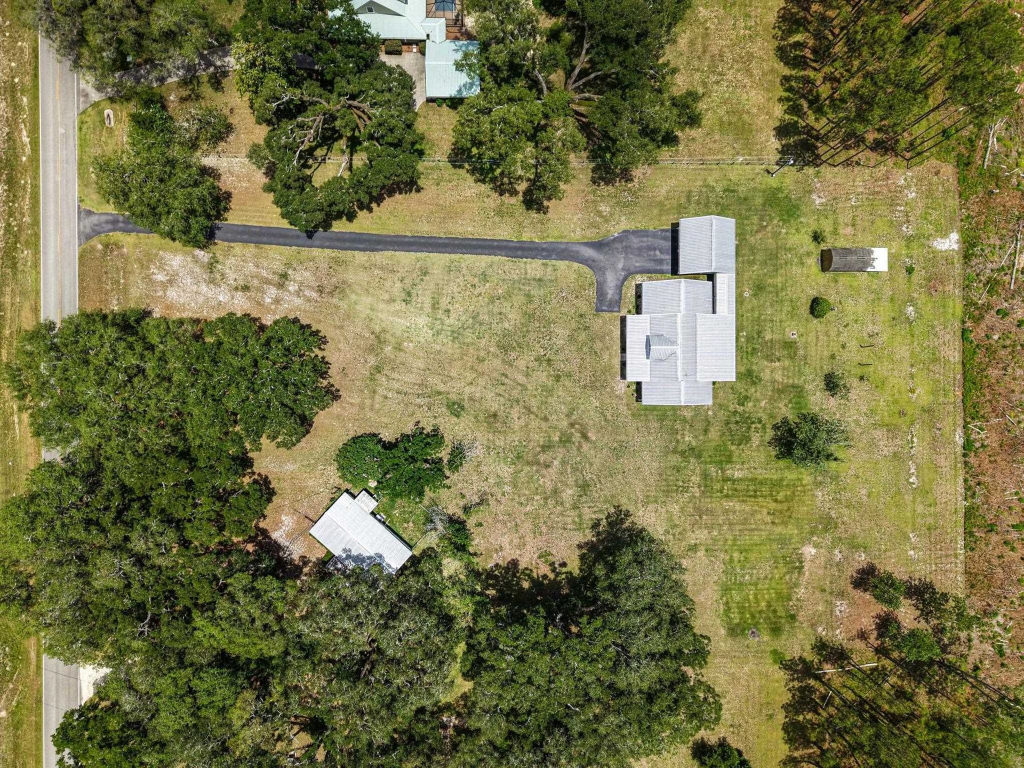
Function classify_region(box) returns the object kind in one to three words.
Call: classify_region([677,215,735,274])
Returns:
building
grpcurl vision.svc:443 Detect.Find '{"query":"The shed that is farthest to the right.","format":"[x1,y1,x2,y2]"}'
[821,248,890,274]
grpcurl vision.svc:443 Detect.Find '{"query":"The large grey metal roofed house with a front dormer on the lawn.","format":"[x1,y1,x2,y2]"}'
[623,273,736,405]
